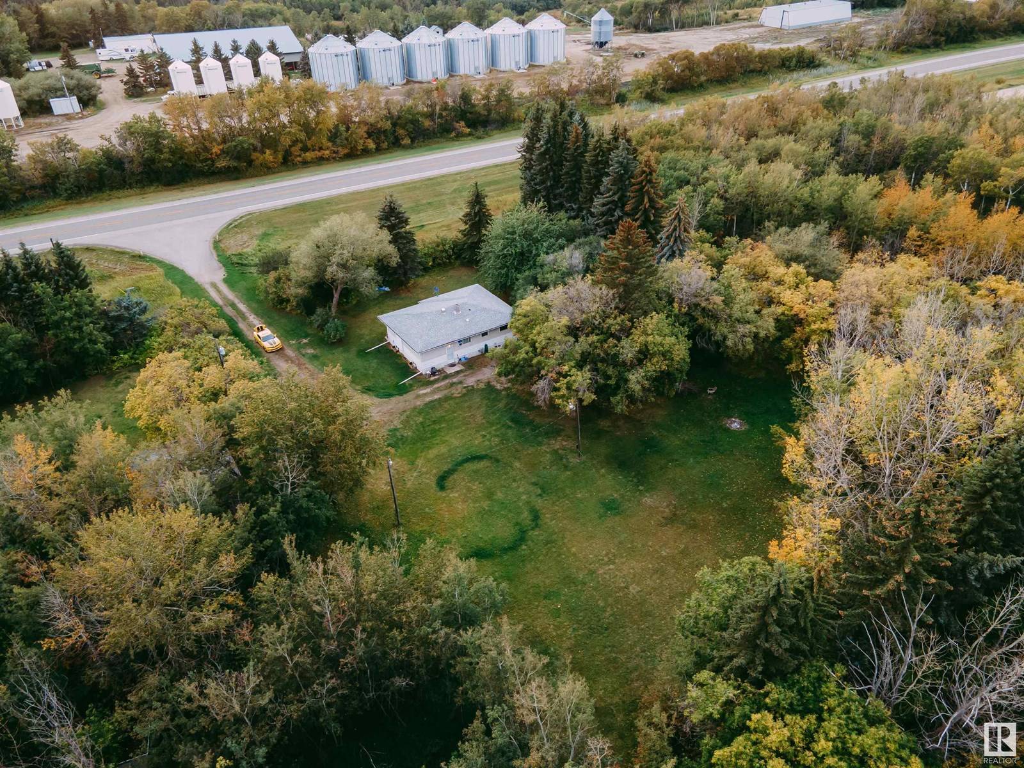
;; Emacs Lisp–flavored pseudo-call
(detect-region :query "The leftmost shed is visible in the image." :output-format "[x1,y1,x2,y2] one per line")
[47,97,84,115]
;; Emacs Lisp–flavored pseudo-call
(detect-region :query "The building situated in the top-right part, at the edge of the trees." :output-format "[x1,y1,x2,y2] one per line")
[754,0,853,29]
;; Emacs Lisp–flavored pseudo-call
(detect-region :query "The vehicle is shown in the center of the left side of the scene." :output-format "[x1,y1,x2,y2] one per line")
[254,321,282,351]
